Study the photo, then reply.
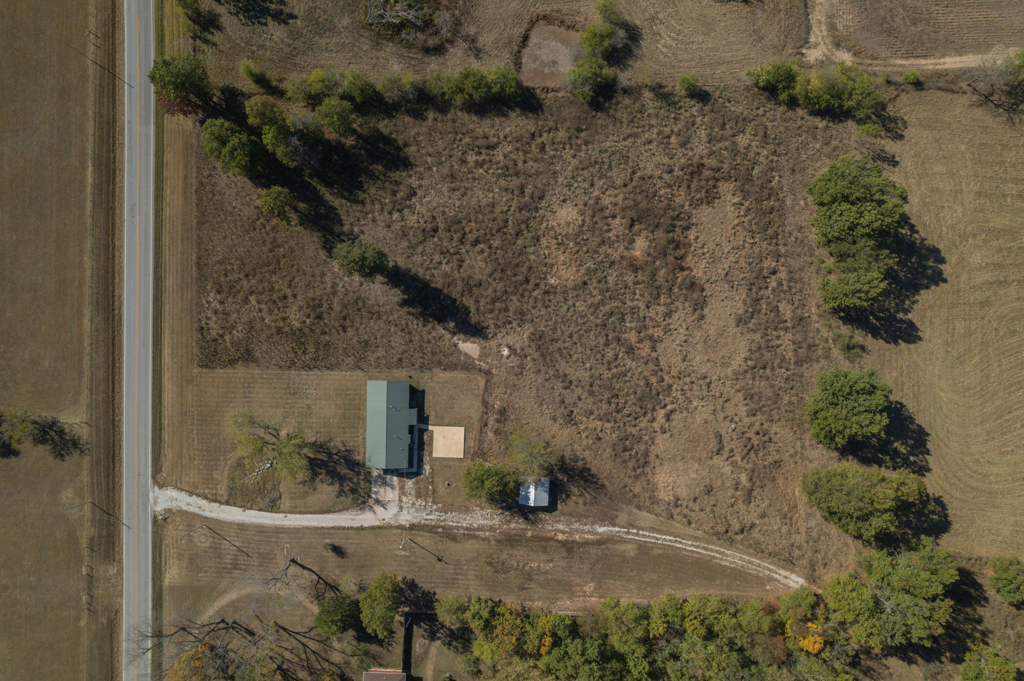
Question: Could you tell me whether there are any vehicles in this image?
No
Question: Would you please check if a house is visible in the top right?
No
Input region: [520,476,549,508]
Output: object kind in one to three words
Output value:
shed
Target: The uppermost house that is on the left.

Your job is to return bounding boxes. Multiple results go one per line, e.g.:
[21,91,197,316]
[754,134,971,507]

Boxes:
[366,380,419,470]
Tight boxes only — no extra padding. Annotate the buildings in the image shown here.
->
[520,476,549,508]
[363,666,407,681]
[366,380,419,470]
